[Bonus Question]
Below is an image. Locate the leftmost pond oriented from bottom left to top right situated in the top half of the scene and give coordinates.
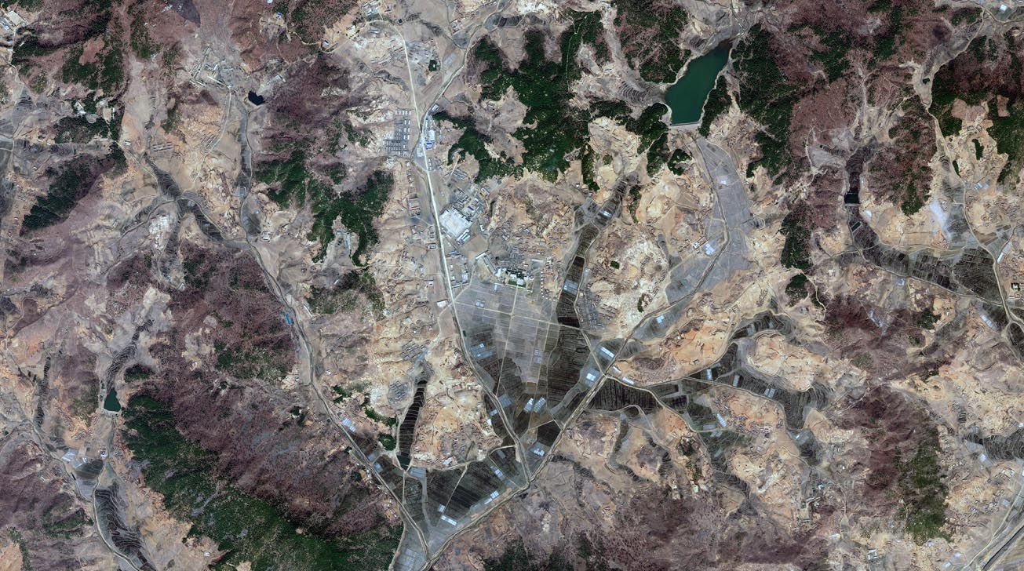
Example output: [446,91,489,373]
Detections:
[665,40,731,125]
